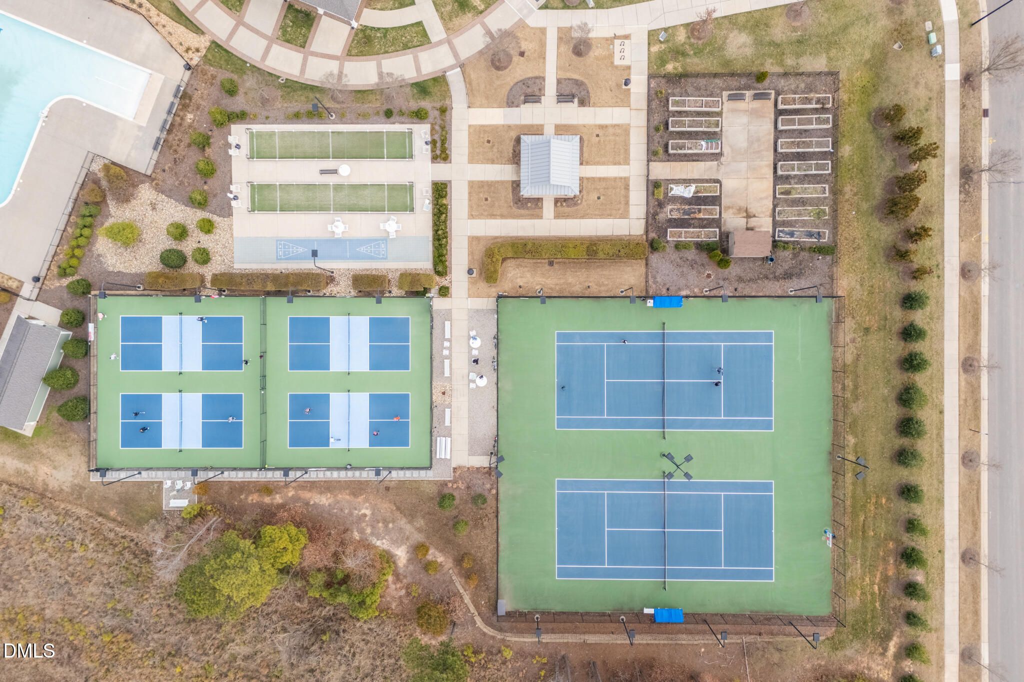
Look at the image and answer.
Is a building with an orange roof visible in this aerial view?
No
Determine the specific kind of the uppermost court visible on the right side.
tennis court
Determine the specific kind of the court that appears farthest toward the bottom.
tennis court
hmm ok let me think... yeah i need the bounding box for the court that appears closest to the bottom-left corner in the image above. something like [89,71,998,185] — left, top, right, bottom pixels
[120,394,244,449]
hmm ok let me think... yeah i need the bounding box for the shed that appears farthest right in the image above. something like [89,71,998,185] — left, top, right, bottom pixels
[728,231,773,258]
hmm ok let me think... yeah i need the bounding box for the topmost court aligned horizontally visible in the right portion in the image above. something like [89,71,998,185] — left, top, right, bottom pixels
[556,331,774,431]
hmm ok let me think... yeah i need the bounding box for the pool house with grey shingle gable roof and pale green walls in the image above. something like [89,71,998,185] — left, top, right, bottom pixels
[0,314,74,431]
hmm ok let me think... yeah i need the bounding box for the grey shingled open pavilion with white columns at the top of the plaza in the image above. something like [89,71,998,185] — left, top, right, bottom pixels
[285,0,362,31]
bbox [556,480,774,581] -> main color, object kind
blue tennis court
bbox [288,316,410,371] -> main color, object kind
blue sports court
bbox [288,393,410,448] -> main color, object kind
blue sports court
